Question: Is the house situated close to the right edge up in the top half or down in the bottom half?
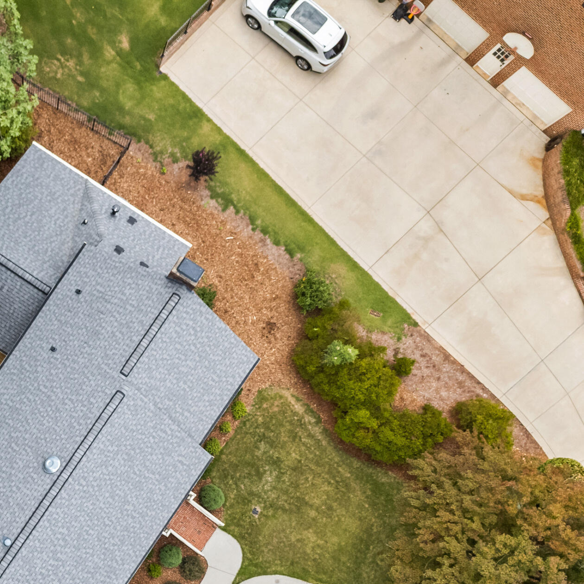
top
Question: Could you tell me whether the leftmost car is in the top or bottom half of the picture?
top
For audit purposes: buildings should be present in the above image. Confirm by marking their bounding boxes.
[395,0,584,138]
[0,139,264,584]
